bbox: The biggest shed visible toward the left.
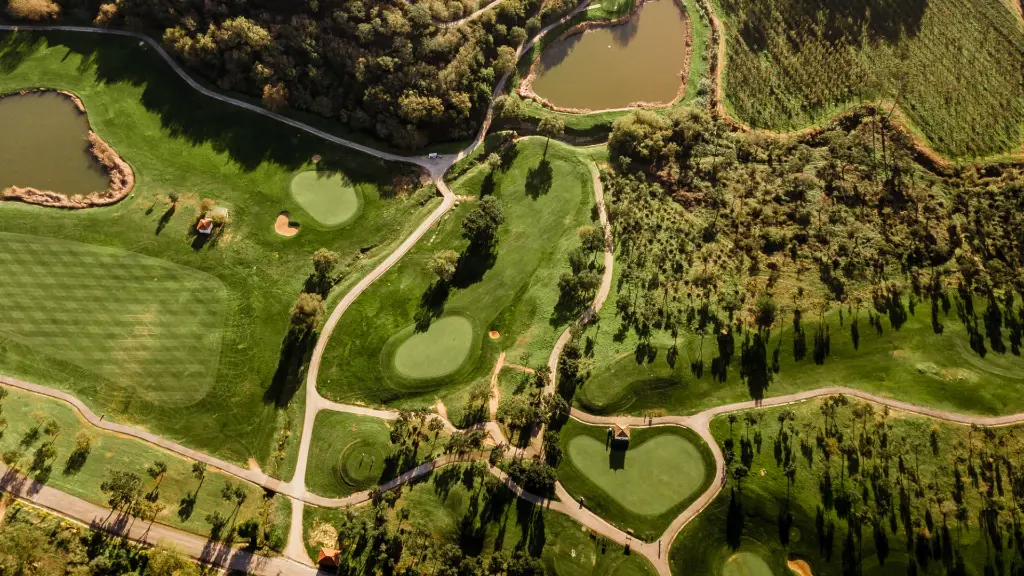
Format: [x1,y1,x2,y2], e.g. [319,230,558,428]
[316,548,341,571]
